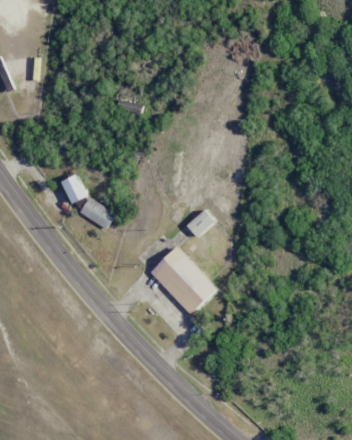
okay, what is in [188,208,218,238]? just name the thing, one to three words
house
